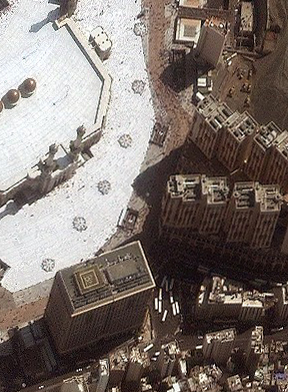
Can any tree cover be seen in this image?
No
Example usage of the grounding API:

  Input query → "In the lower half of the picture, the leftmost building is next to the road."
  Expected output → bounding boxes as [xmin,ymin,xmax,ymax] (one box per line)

[0,320,66,392]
